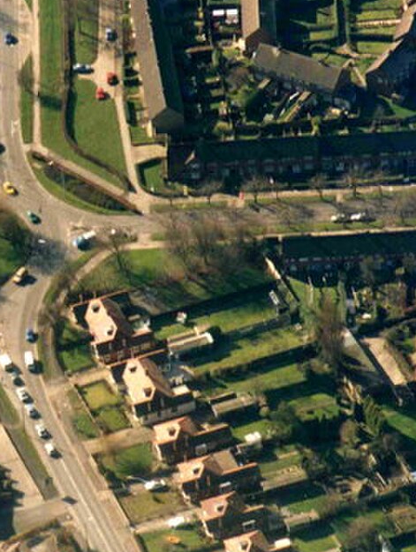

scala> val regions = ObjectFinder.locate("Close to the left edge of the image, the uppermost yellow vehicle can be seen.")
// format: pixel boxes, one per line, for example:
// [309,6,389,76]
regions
[3,182,17,195]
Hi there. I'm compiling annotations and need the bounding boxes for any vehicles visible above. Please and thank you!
[5,33,12,44]
[58,495,79,505]
[35,423,49,438]
[0,356,12,371]
[46,441,58,457]
[350,212,368,221]
[112,484,132,495]
[146,480,167,490]
[18,388,30,403]
[10,370,24,385]
[96,88,106,100]
[25,403,37,418]
[70,227,97,250]
[27,328,34,342]
[75,64,92,73]
[14,267,27,282]
[3,182,17,195]
[109,72,116,85]
[329,214,348,223]
[26,211,40,224]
